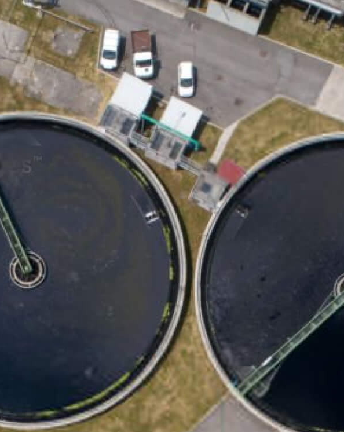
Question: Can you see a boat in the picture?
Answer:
No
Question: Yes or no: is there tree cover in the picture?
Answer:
No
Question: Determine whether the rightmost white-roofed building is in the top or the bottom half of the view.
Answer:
top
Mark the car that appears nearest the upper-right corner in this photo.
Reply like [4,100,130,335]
[177,62,195,97]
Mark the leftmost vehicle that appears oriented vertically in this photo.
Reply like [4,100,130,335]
[100,31,119,71]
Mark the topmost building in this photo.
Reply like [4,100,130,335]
[110,72,153,118]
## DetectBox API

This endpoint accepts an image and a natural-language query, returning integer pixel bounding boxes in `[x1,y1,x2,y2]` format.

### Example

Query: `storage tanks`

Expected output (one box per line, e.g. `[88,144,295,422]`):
[195,132,344,432]
[0,112,187,430]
